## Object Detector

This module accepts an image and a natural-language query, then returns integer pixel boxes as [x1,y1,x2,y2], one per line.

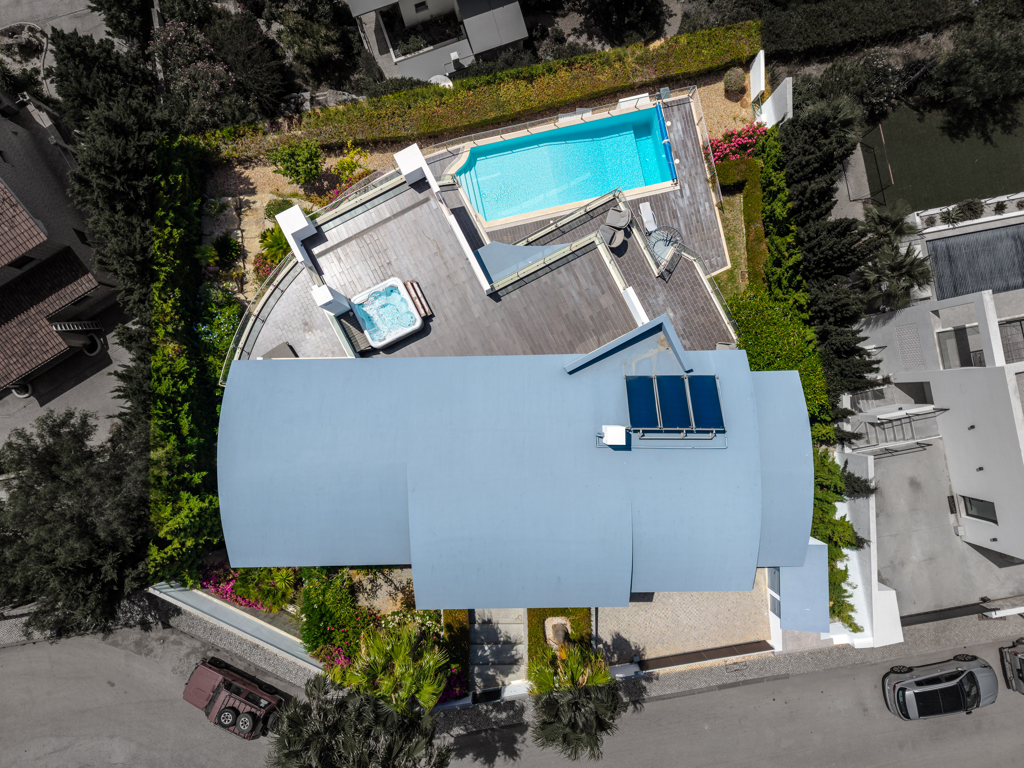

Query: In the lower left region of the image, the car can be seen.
[180,654,284,743]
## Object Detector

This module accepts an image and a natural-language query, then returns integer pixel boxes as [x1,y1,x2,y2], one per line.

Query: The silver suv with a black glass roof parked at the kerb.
[880,652,998,721]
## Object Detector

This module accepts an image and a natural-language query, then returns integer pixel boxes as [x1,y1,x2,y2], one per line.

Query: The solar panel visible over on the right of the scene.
[624,373,727,440]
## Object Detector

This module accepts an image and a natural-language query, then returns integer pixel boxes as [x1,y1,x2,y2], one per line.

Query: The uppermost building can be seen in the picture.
[349,0,528,84]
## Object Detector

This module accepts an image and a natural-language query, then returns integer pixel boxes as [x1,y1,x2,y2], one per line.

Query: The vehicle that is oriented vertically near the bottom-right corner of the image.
[1001,636,1024,692]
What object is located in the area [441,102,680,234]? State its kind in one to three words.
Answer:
swimming pool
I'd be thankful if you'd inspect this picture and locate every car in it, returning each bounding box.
[1001,636,1024,692]
[180,654,284,743]
[880,652,998,721]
